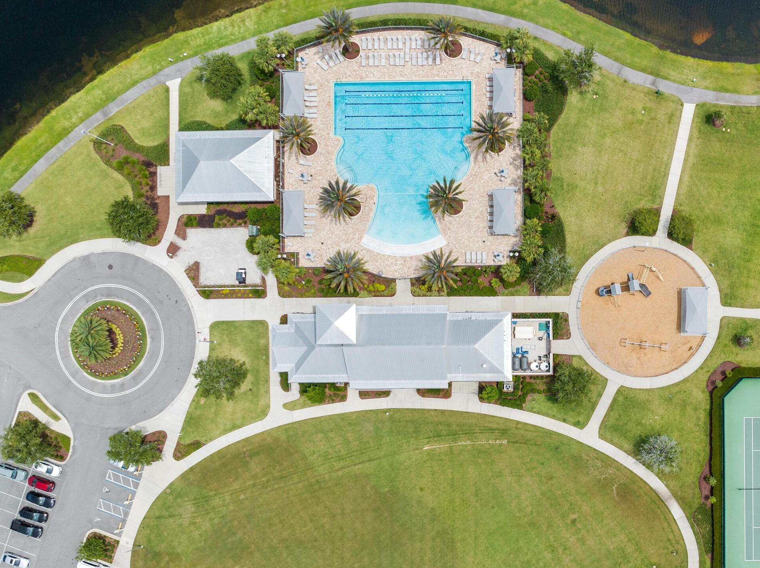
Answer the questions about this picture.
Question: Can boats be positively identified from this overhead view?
No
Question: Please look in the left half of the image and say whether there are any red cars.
Yes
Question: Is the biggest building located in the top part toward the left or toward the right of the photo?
left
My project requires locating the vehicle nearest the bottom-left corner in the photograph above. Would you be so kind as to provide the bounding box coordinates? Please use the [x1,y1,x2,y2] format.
[0,551,34,568]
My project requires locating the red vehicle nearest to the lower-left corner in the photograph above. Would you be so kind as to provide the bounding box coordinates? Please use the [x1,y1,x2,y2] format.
[29,474,59,493]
